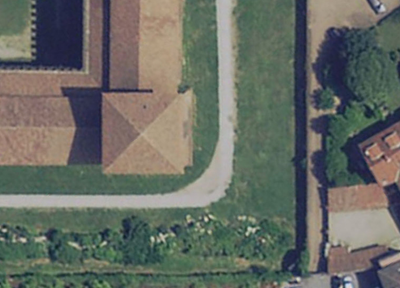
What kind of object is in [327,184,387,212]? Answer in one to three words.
shed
